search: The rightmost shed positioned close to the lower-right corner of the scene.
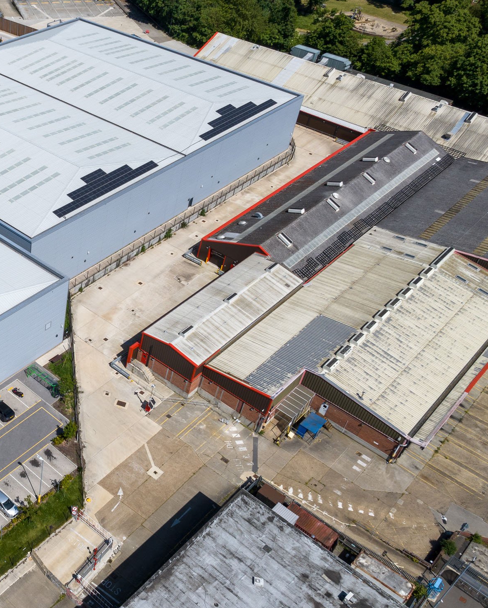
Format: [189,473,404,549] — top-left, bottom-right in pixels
[450,541,488,607]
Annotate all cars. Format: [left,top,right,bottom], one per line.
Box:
[0,399,13,424]
[0,487,18,520]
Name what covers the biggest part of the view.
buildings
